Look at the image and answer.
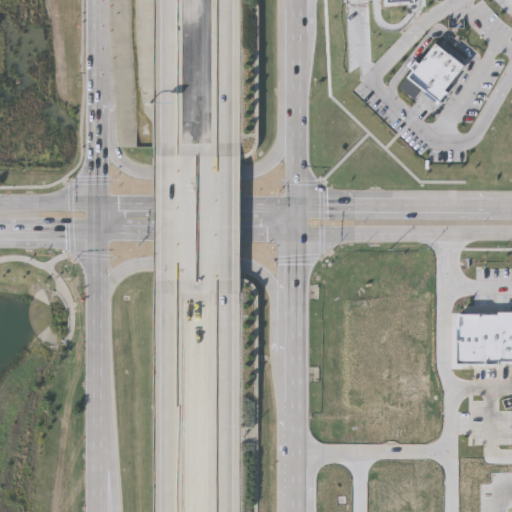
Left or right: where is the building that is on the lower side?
right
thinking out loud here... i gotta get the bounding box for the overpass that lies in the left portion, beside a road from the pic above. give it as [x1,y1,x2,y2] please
[154,155,240,280]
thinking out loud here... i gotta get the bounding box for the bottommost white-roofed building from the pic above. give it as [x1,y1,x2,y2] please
[458,311,512,367]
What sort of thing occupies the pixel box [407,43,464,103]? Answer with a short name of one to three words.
building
